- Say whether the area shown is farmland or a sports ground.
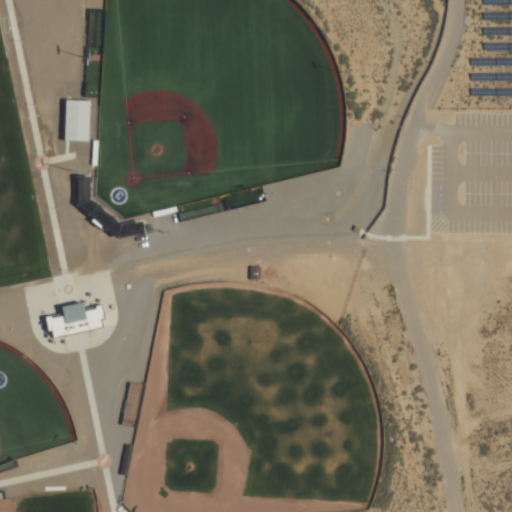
sports ground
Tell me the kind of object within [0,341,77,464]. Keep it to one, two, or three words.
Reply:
baseball field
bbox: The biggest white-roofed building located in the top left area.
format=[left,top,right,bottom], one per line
[64,100,91,142]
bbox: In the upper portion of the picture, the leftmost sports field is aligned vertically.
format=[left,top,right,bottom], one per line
[0,31,52,286]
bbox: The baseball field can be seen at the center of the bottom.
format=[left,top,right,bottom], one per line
[120,282,383,512]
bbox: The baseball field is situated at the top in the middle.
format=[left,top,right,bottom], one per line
[97,0,346,218]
